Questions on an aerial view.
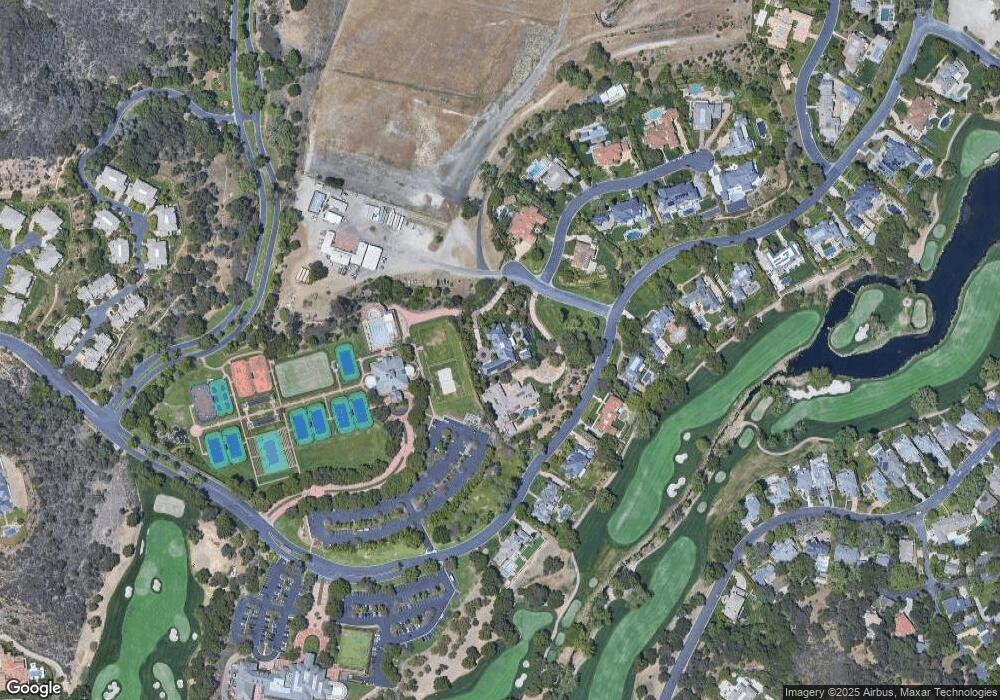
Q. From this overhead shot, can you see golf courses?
Yes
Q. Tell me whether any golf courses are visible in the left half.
Yes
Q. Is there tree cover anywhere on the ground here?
Yes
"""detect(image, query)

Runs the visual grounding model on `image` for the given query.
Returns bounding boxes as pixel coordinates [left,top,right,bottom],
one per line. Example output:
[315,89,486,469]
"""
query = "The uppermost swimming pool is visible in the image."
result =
[878,3,895,27]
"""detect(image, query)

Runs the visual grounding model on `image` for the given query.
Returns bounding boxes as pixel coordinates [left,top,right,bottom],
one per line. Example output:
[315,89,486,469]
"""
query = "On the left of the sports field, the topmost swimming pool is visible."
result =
[365,315,398,355]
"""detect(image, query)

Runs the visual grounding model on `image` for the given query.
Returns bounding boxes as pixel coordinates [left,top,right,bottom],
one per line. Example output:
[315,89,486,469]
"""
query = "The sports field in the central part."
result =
[412,318,483,419]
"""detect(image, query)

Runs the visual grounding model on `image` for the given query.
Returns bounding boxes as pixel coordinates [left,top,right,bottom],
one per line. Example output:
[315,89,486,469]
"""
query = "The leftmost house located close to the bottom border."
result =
[0,651,32,691]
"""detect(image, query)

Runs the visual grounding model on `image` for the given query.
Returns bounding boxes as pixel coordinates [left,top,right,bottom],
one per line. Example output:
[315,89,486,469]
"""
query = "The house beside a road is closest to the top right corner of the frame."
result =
[929,54,969,102]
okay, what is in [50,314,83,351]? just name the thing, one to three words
building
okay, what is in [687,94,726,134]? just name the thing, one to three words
house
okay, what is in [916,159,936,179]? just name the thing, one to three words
swimming pool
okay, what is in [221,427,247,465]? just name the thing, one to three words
tennis court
